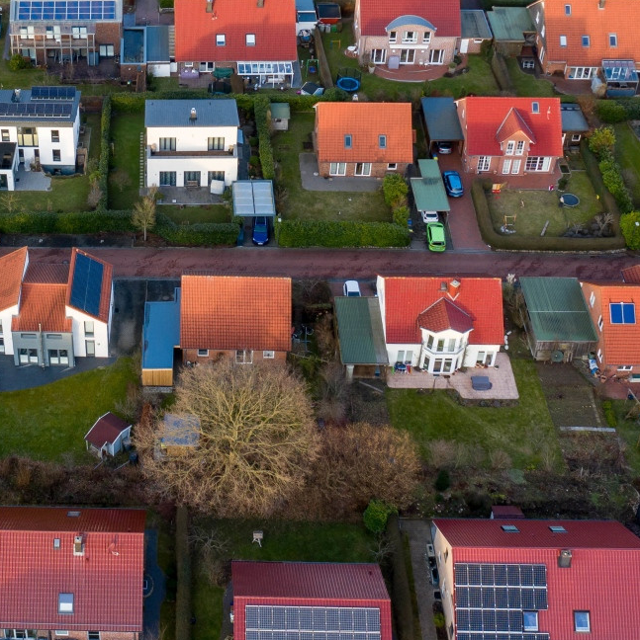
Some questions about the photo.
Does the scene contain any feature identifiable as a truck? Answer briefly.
No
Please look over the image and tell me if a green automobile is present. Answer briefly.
Yes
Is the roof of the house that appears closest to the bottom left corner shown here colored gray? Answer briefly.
No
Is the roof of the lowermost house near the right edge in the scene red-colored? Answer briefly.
Yes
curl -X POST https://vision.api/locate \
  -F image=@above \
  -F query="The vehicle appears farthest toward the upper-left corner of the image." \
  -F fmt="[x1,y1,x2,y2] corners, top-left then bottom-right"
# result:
[251,219,270,249]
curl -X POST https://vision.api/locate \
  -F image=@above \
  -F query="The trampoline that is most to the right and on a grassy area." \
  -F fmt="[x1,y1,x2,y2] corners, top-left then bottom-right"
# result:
[560,194,580,207]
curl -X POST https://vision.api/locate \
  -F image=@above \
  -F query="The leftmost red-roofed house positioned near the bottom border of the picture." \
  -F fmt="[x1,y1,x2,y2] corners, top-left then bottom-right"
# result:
[0,505,147,640]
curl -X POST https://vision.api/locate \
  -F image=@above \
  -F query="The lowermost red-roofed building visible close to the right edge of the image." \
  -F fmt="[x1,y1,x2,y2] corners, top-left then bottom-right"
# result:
[416,517,640,640]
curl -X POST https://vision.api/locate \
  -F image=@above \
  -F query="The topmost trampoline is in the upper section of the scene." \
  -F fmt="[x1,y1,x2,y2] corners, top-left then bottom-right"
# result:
[337,67,361,93]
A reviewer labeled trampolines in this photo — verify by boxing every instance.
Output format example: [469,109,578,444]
[337,67,361,93]
[560,194,580,207]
